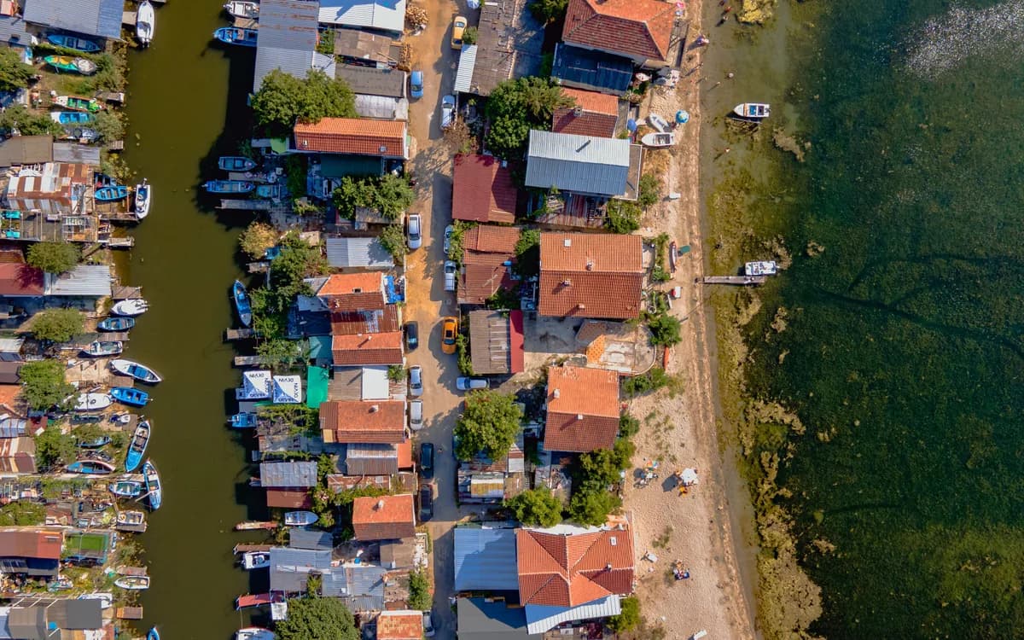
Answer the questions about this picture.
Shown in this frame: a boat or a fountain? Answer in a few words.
boat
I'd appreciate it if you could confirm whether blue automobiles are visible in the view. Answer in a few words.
Yes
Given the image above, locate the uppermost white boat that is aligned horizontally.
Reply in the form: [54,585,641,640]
[222,1,259,18]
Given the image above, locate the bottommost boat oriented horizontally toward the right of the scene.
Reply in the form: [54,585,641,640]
[744,261,781,276]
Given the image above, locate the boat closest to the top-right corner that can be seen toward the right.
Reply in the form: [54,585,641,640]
[734,102,775,117]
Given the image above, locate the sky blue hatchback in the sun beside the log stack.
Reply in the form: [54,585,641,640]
[409,70,425,101]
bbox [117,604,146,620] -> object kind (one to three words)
pier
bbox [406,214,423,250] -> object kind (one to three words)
car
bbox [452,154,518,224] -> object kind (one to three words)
house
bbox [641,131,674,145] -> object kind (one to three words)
boat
